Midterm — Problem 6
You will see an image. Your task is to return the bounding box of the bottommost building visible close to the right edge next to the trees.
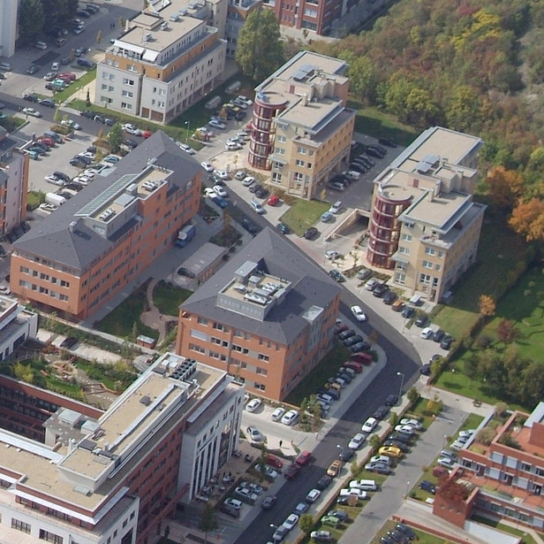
[430,399,544,532]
